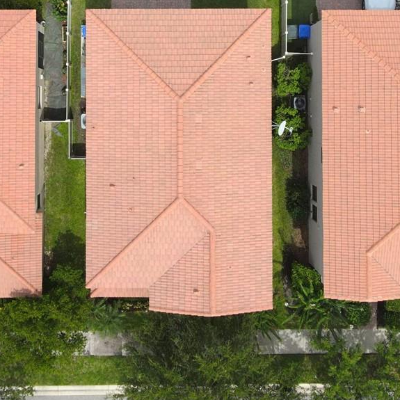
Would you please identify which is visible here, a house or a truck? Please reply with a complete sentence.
Looking from above, you can make out a house.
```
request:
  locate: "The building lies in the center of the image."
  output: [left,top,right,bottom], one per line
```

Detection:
[84,7,274,318]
